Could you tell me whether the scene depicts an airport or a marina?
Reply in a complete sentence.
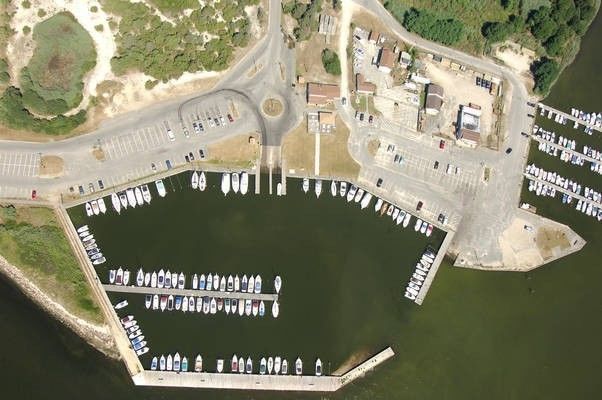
It's a marina.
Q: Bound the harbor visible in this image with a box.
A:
[56,106,587,374]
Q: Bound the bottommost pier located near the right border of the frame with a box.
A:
[523,172,602,209]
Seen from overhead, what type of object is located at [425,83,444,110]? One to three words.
house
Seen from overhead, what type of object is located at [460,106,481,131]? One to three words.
building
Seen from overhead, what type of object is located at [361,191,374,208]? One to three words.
boat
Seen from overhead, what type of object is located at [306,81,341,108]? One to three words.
building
